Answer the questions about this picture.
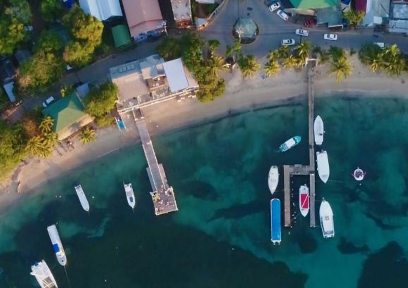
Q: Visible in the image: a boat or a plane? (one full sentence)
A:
This aerial view contains a boat.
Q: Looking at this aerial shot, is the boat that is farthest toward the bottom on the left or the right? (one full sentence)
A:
You can find the boat that is farthest toward the bottom on the left side of the picture.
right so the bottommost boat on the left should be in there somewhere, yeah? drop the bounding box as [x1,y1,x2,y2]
[29,261,57,288]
